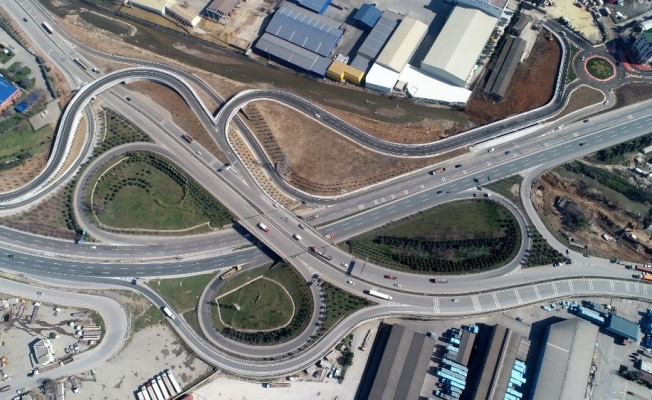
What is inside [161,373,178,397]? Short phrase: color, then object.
white vehicle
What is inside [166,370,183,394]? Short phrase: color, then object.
white vehicle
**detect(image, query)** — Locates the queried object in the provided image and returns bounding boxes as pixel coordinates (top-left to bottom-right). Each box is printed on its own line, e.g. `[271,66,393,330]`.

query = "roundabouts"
[574,47,627,89]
